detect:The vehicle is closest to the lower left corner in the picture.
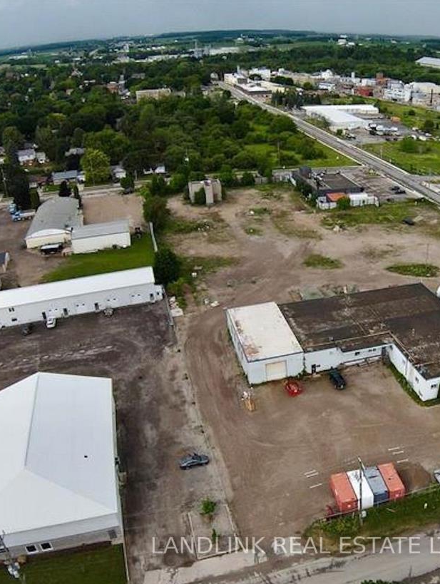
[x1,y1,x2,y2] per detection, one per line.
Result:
[178,452,208,468]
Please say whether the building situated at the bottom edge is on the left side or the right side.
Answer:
left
